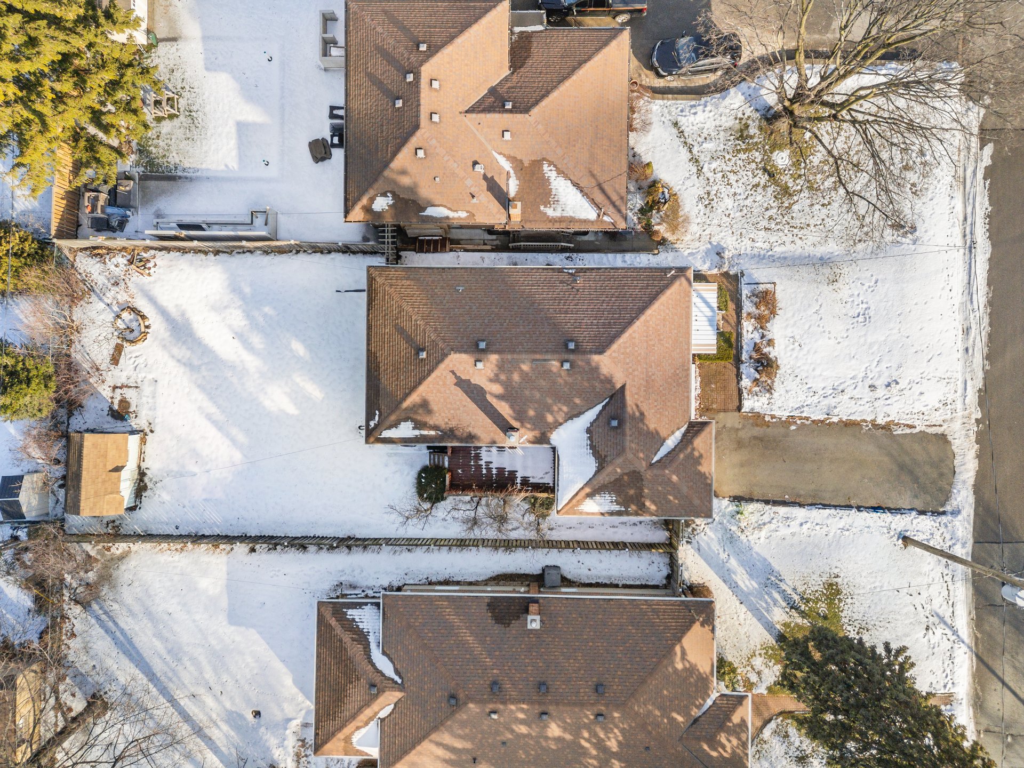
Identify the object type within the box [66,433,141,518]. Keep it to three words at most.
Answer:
shed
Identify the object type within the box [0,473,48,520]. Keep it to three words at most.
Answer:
shed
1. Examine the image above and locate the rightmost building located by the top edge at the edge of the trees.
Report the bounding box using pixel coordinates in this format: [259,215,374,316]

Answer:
[342,0,632,233]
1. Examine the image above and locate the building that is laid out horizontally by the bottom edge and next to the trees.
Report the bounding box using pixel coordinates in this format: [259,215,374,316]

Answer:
[312,576,752,768]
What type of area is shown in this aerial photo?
residential area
